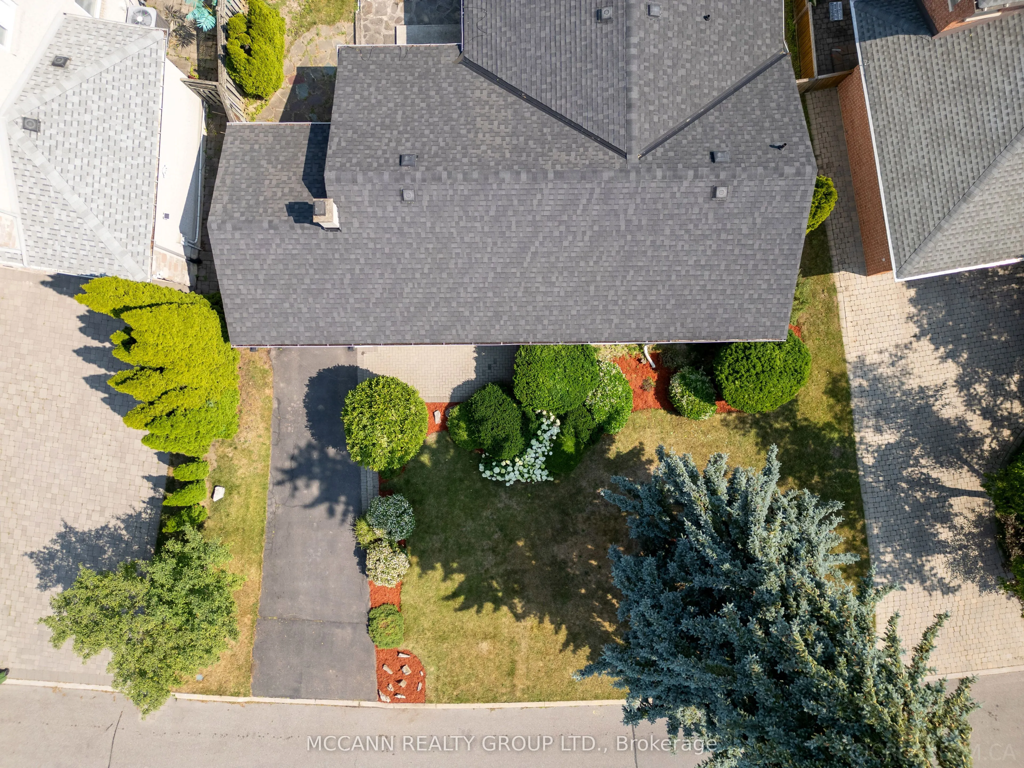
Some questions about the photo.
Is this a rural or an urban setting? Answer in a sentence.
From above, the setting appears urban.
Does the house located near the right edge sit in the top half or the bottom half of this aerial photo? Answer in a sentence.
It is in the top half that the house located near the right edge appears.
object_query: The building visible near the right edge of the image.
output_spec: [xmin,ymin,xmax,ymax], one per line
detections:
[836,0,1024,283]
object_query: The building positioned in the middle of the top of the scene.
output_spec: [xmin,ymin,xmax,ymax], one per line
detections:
[204,0,819,370]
